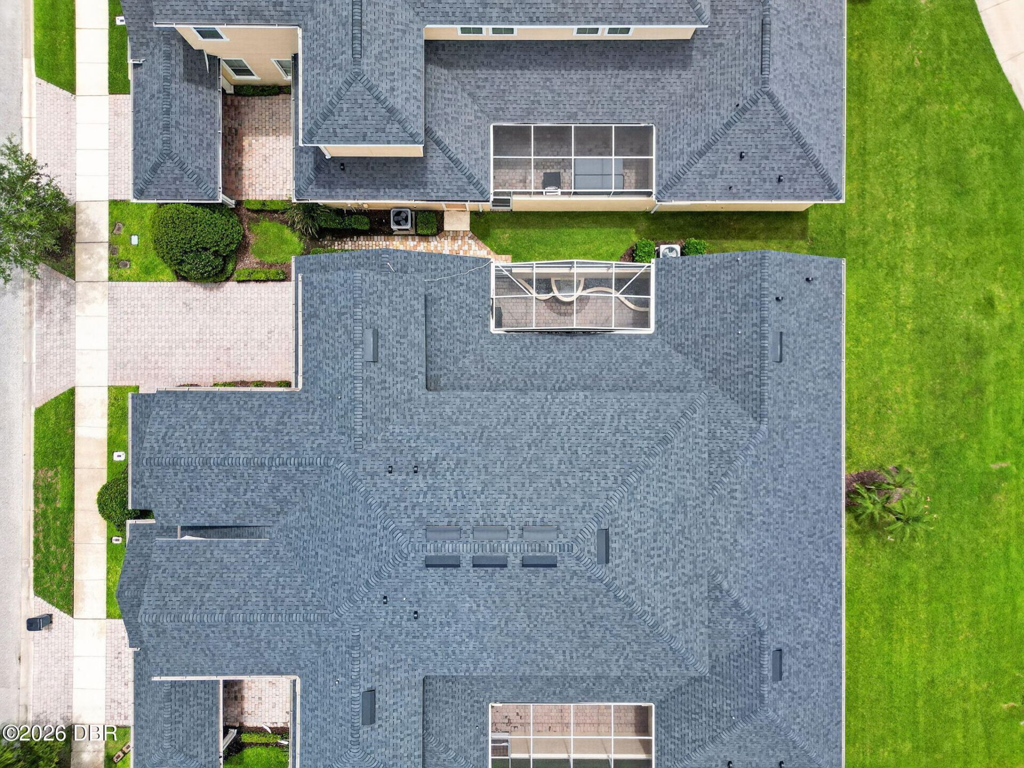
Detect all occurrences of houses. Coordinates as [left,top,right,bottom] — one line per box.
[116,249,845,768]
[118,0,845,217]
